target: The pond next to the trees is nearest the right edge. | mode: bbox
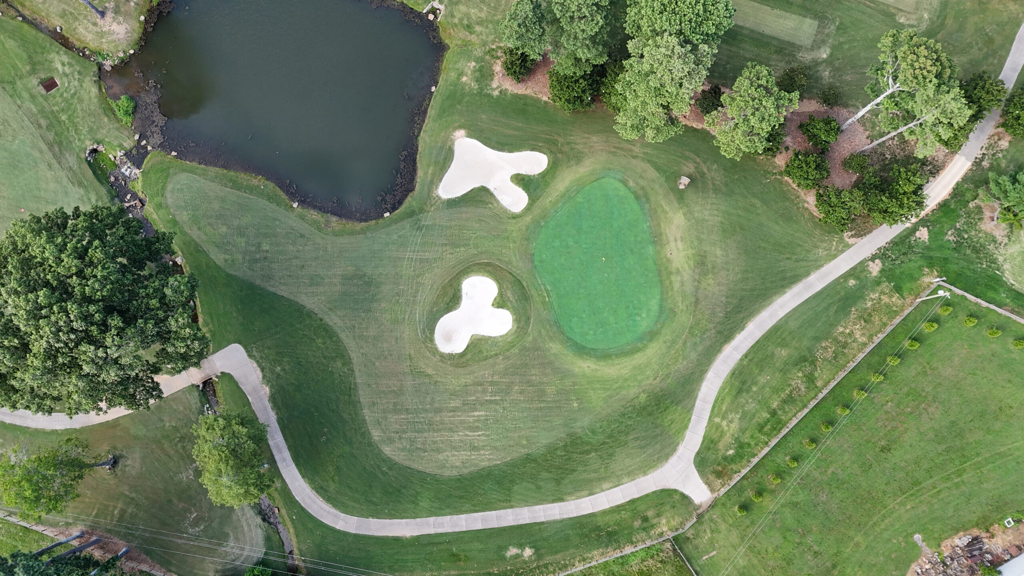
[127,0,437,215]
